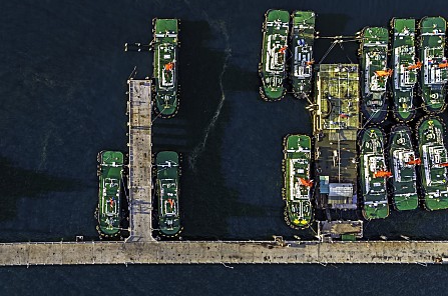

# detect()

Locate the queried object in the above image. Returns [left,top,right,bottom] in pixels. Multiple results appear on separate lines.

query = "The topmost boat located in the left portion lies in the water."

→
[153,20,181,116]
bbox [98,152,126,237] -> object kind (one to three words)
boat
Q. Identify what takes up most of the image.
water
